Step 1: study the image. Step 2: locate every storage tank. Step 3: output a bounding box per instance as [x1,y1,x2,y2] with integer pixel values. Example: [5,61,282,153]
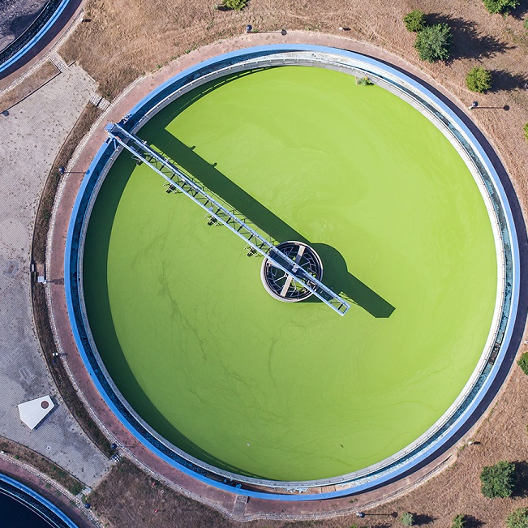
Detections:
[0,473,79,528]
[65,44,521,501]
[0,0,71,74]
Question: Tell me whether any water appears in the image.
Yes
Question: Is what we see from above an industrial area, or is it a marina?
industrial area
